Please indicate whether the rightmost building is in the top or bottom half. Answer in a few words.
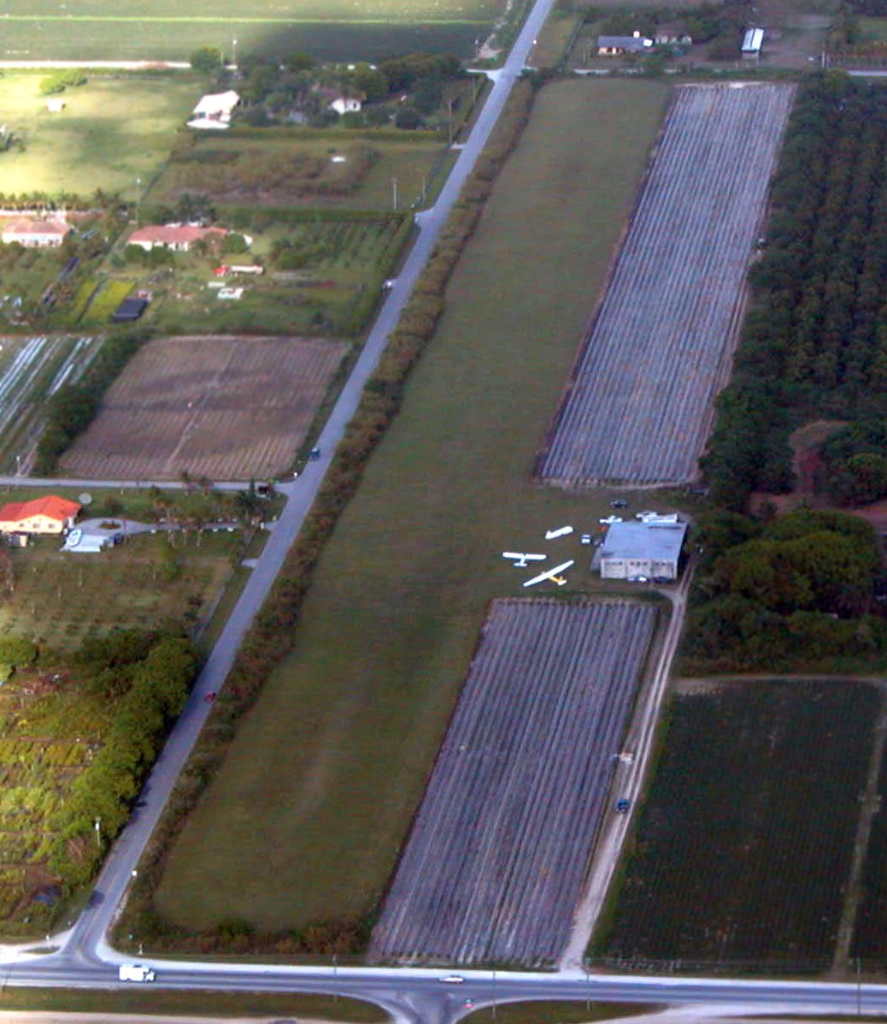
top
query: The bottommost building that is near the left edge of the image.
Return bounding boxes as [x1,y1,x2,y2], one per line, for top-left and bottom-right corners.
[0,495,87,536]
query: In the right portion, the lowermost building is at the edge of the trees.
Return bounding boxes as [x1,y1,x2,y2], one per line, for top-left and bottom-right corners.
[584,526,689,580]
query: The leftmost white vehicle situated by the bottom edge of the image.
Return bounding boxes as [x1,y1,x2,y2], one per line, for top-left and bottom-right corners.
[118,962,156,982]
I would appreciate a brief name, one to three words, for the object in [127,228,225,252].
house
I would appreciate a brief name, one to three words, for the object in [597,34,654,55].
house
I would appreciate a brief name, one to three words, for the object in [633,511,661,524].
vehicle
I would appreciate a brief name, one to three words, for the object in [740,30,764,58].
building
